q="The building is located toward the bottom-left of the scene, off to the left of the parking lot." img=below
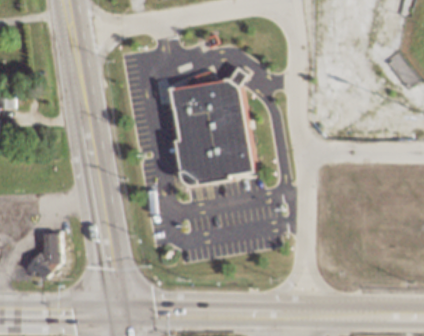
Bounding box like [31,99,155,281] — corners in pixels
[29,232,64,277]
